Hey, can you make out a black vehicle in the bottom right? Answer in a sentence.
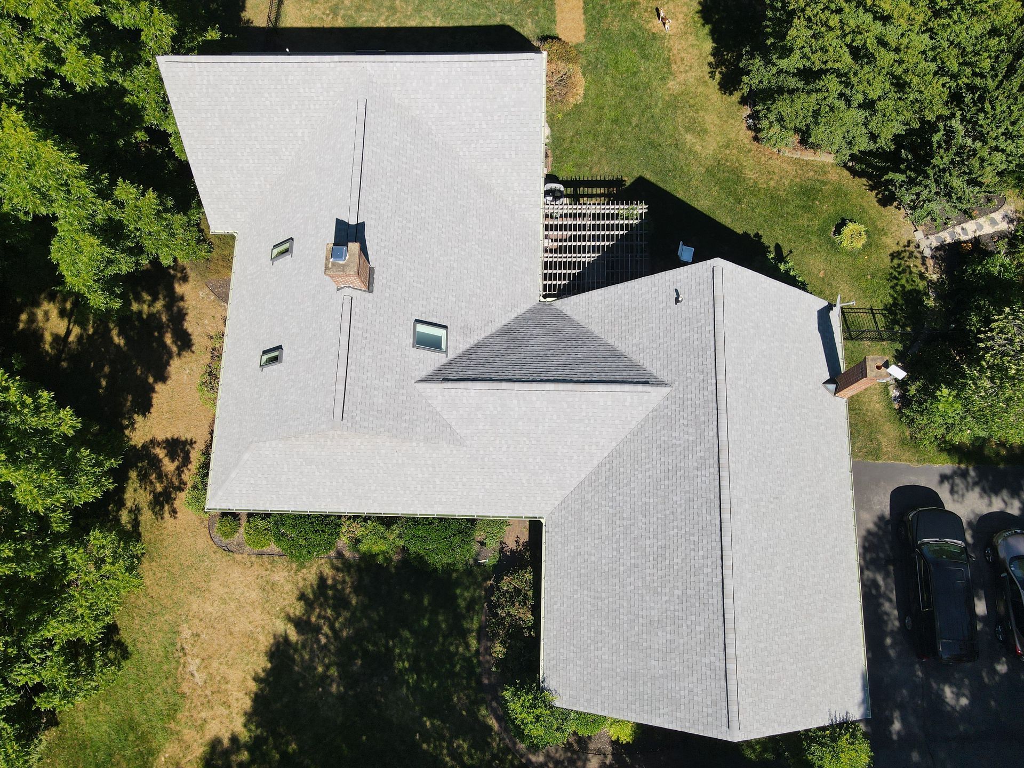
Yes, a black vehicle appears in the bottom right.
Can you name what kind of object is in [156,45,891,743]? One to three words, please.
house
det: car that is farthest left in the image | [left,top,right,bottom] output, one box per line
[895,498,987,664]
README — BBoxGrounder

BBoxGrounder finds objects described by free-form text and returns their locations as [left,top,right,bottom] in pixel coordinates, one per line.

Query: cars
[983,520,1024,673]
[895,498,987,664]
